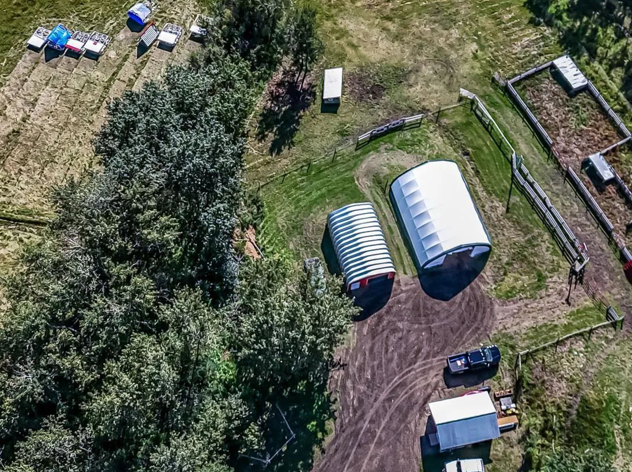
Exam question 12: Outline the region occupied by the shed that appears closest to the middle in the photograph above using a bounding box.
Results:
[333,205,394,291]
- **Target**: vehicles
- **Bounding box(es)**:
[444,347,504,376]
[440,458,487,472]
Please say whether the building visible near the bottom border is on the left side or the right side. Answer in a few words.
right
